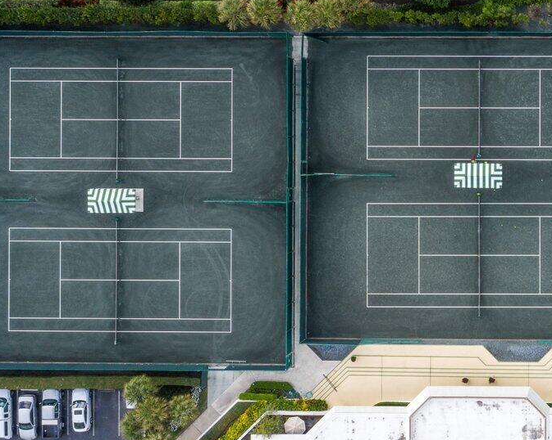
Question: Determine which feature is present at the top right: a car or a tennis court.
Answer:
tennis court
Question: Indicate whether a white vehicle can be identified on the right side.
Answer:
No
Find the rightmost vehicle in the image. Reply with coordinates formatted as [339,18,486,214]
[70,388,94,433]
